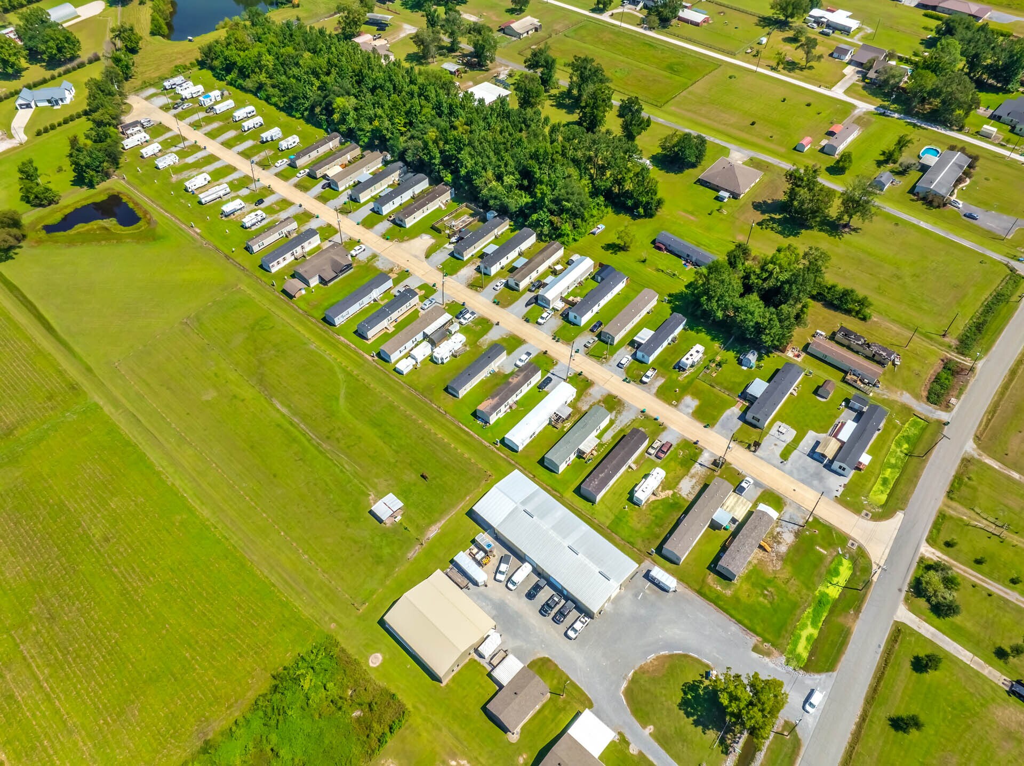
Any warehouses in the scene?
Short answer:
Yes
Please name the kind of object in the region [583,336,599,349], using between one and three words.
vehicle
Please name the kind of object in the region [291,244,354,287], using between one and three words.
house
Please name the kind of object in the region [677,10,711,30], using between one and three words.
barn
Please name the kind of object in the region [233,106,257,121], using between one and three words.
vehicle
